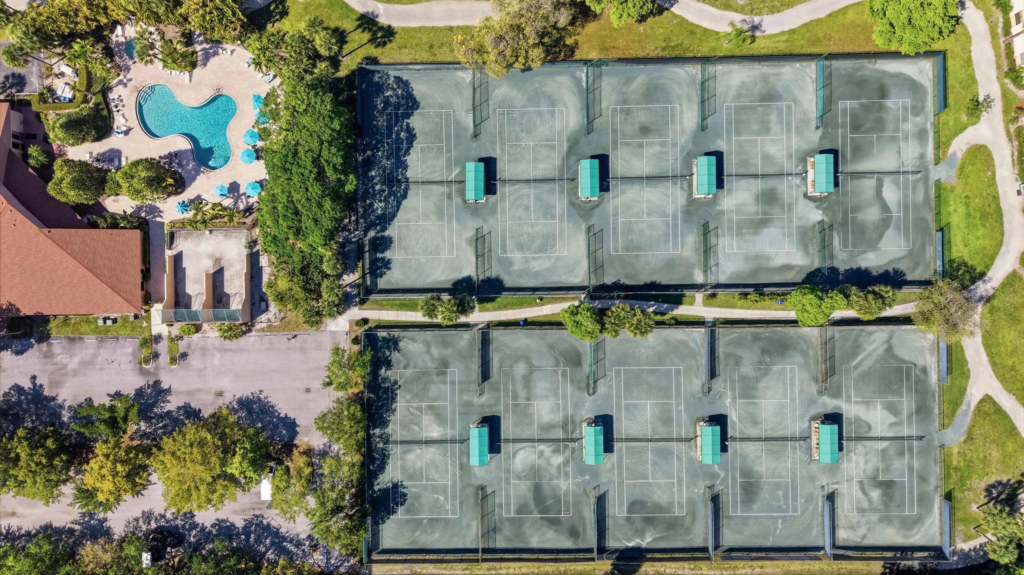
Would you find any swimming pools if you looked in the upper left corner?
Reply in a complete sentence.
Yes, looking in the upper left corner, one can make out a swimming pool.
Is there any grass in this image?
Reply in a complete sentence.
Yes, there's grass in this view.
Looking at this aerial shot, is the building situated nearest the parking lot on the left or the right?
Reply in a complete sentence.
You can find the building situated nearest the parking lot on the left side of the picture.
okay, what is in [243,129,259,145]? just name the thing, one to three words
umbrella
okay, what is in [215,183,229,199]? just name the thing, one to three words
umbrella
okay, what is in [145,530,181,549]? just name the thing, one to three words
vehicle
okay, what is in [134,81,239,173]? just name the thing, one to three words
swimming pool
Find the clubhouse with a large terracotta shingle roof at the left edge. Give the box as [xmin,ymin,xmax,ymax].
[0,102,146,315]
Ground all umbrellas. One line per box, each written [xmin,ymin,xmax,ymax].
[215,183,229,199]
[250,94,264,110]
[176,200,191,213]
[243,129,259,145]
[241,149,256,164]
[245,181,259,196]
